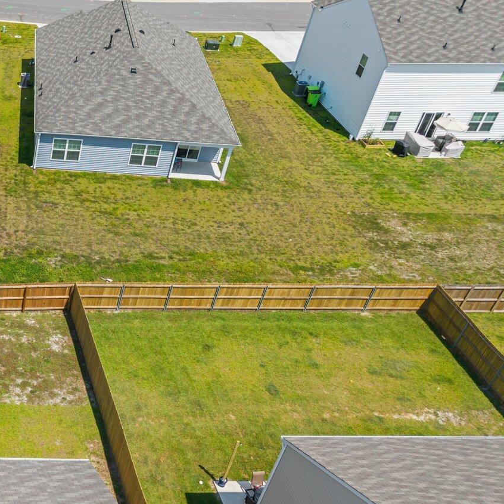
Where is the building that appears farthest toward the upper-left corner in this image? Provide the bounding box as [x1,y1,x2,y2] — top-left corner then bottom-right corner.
[32,0,243,180]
